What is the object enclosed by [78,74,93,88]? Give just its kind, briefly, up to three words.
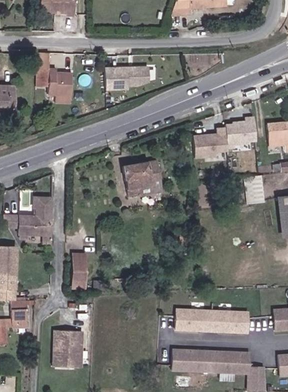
swimming pool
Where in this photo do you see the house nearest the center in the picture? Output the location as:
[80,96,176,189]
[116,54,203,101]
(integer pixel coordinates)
[124,161,164,198]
